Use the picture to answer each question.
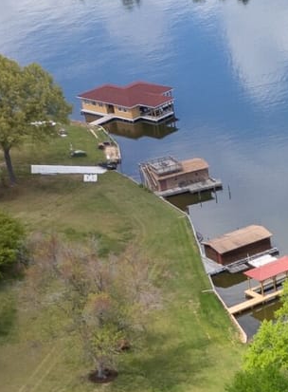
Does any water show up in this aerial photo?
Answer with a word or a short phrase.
Yes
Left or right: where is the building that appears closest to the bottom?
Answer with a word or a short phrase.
right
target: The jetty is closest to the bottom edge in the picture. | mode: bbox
[225,276,287,313]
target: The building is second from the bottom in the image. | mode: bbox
[129,154,224,194]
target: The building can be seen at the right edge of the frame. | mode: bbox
[193,226,283,275]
